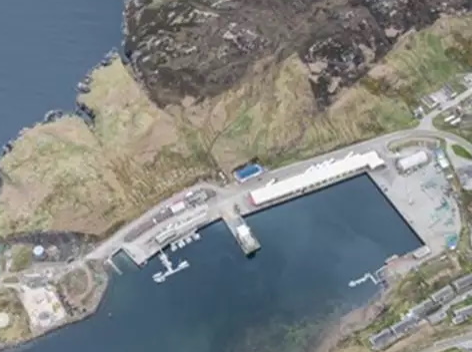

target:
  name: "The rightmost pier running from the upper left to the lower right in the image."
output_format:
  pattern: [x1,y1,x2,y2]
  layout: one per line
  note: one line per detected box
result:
[220,213,261,257]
